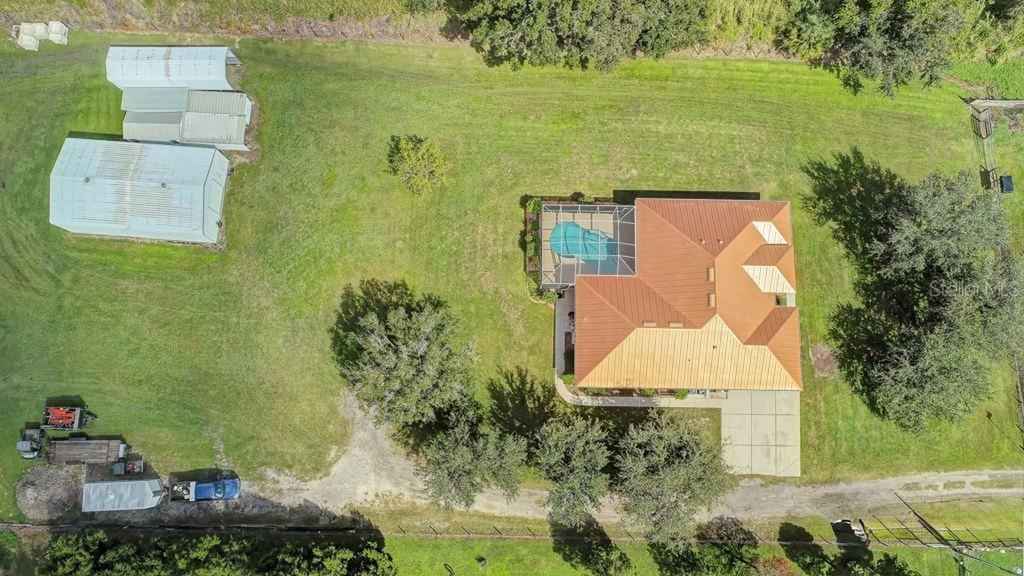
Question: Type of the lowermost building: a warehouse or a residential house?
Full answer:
The lowermost building appears to be a residential house.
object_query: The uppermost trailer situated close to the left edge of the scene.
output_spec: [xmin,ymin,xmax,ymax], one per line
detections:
[38,404,100,433]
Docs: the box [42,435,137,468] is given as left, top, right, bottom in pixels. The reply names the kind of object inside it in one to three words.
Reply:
trailer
